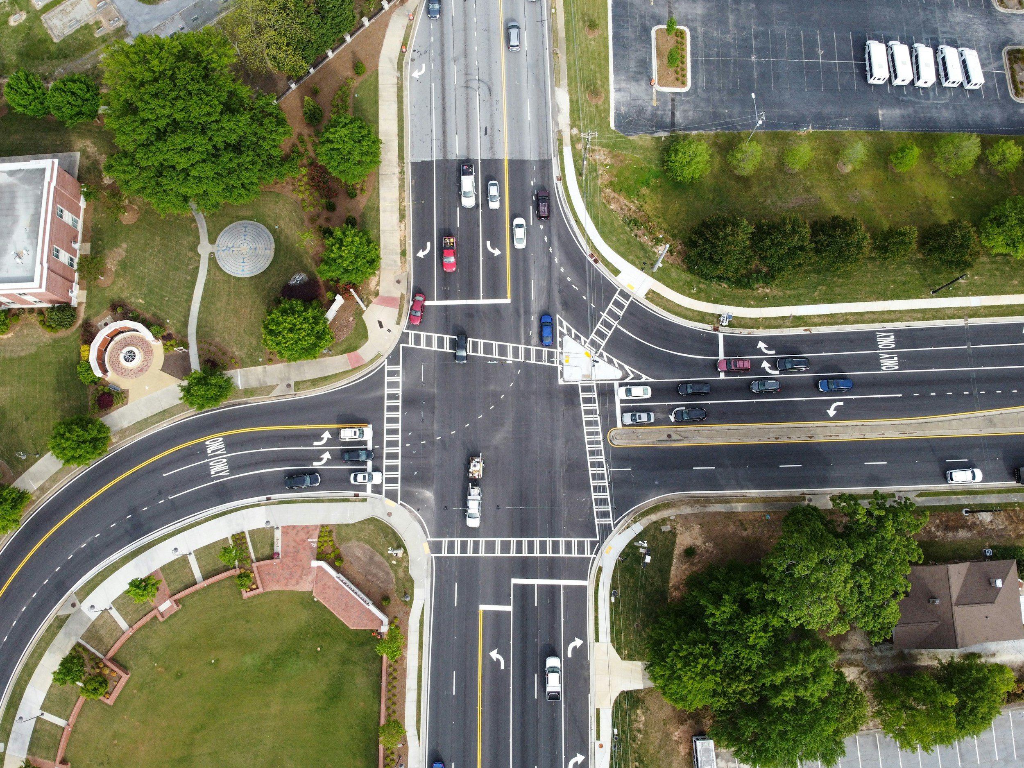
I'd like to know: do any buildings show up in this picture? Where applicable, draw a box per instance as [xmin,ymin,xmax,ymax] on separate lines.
[893,560,1024,649]
[0,156,84,310]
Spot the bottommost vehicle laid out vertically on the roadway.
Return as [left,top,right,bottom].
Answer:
[544,656,563,702]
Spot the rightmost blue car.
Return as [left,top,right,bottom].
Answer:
[818,376,854,393]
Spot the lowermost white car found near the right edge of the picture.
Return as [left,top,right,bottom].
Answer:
[945,467,983,484]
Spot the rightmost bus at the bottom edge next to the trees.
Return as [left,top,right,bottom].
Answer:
[694,735,718,768]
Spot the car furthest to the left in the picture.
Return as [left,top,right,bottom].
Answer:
[284,472,321,489]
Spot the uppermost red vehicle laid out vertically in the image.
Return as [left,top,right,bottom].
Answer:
[441,236,457,272]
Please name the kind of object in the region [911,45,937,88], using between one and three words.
vehicle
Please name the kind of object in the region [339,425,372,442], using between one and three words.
car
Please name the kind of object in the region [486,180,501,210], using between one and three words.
car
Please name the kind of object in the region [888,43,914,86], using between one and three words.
vehicle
